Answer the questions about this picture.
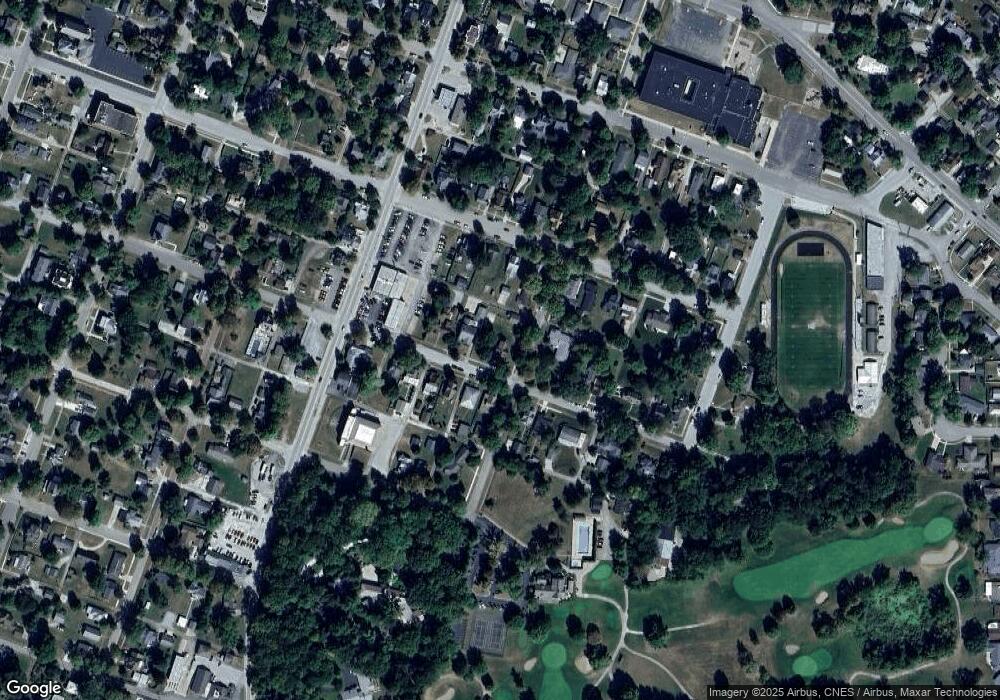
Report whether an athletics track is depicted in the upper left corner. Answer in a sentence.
No, I can find no athletics track in the upper left corner.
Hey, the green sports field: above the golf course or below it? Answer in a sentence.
In the image, the green sports field sits above the golf course.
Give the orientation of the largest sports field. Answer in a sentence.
The largest sports field is laid out up and down.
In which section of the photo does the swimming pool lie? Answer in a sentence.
The swimming pool appears toward the bottom of the photo.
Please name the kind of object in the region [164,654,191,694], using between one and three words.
building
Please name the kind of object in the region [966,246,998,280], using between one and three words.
house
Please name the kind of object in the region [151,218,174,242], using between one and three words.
house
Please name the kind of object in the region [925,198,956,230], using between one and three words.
barn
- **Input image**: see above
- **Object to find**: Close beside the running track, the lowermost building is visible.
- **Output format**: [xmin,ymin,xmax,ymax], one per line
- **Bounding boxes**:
[858,361,878,383]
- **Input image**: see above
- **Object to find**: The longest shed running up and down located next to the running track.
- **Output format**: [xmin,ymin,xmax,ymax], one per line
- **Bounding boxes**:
[867,222,884,276]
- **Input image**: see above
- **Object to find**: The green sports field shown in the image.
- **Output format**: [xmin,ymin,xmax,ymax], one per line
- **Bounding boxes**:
[778,261,848,400]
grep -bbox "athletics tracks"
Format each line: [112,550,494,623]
[771,229,853,413]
